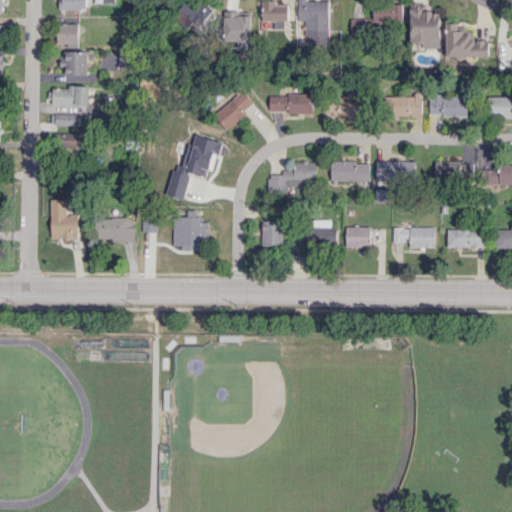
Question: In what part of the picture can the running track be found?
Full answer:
The running track sits in the bottom left section of the image.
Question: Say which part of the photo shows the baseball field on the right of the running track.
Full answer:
The baseball field on the right of the running track sits in the bottom section of the image.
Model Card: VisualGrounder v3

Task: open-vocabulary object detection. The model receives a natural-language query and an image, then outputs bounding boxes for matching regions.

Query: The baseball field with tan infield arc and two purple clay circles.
[170,340,418,512]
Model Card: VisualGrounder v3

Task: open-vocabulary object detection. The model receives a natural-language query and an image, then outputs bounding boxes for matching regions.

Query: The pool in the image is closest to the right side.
[414,50,444,68]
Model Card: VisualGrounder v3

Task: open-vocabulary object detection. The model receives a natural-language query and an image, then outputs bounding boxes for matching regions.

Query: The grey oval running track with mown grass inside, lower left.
[0,338,91,508]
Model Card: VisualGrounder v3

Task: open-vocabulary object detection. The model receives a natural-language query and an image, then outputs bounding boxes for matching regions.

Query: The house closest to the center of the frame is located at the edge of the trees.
[261,221,288,246]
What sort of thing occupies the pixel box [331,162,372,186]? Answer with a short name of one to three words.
house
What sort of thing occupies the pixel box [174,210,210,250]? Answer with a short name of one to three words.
house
